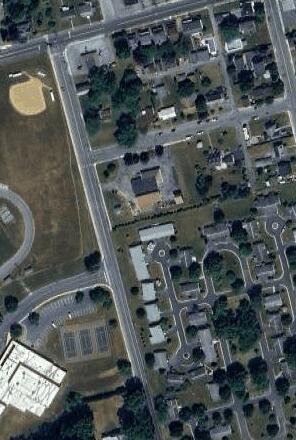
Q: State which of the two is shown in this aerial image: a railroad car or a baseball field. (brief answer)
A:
baseball field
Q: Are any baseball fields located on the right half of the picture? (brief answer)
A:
No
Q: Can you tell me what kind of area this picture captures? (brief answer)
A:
residential area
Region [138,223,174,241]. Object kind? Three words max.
house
